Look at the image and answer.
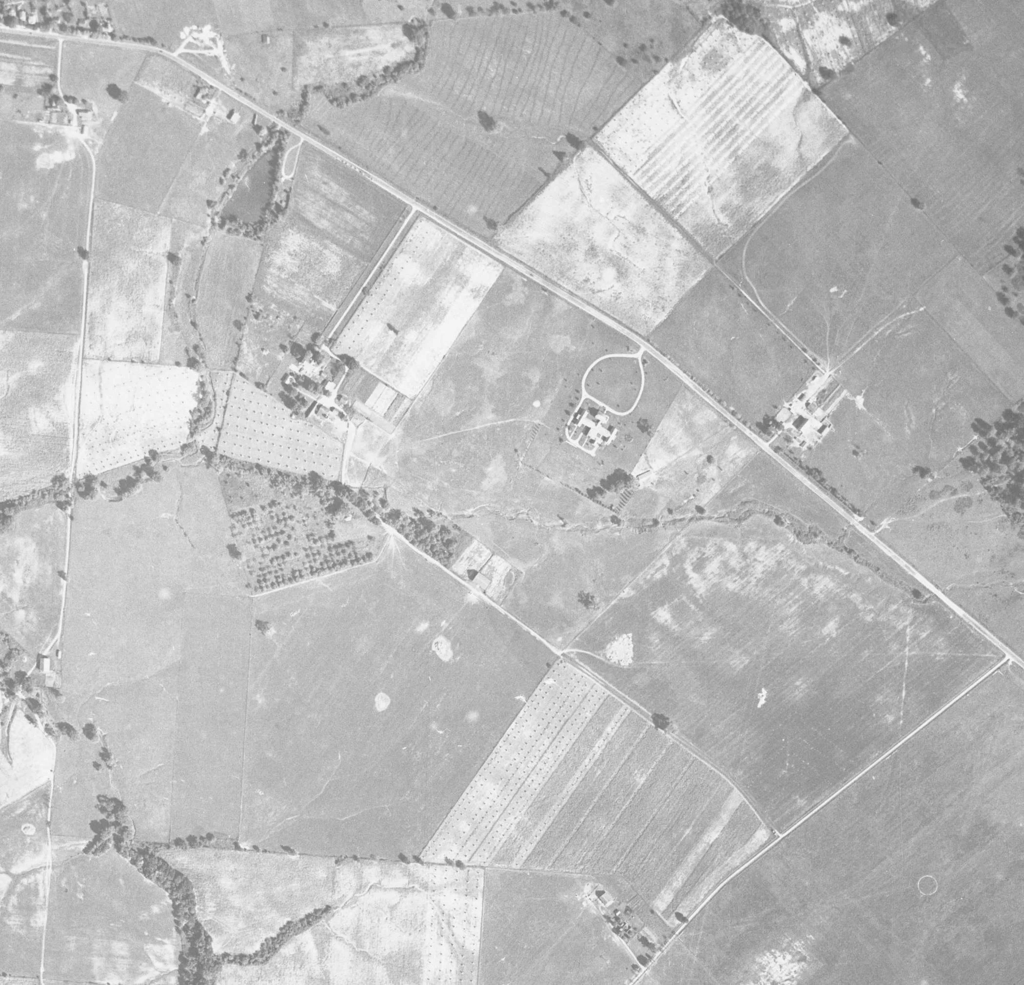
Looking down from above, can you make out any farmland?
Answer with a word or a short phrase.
Yes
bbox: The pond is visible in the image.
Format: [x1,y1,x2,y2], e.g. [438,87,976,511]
[221,149,275,224]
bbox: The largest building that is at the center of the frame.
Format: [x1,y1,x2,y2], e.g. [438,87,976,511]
[577,410,618,445]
